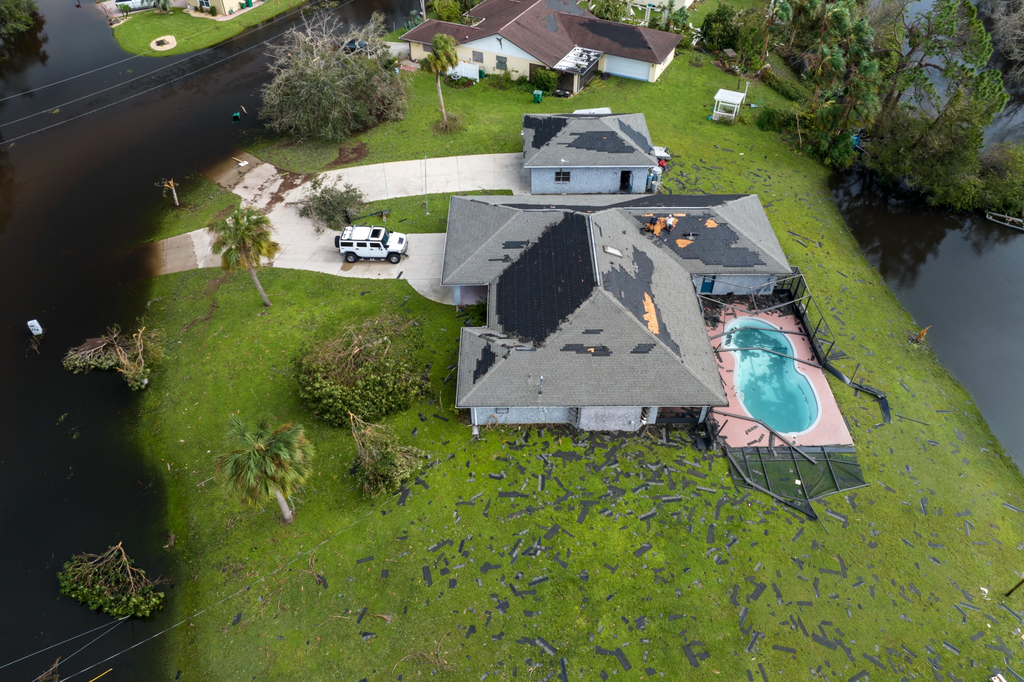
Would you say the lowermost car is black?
No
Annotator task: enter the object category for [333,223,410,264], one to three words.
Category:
car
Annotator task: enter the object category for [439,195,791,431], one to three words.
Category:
house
